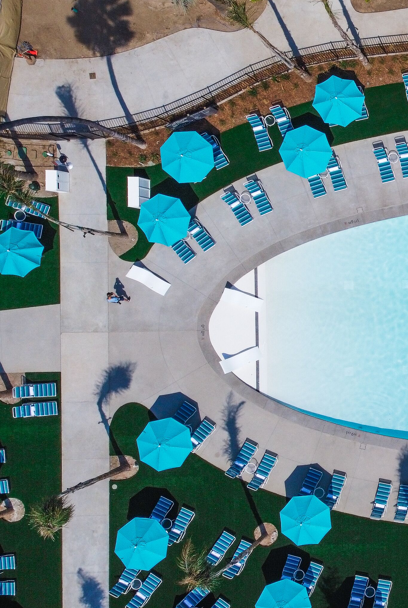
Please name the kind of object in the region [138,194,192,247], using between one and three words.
umbrella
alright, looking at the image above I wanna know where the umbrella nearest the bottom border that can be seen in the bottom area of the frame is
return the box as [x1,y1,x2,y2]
[256,577,312,608]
